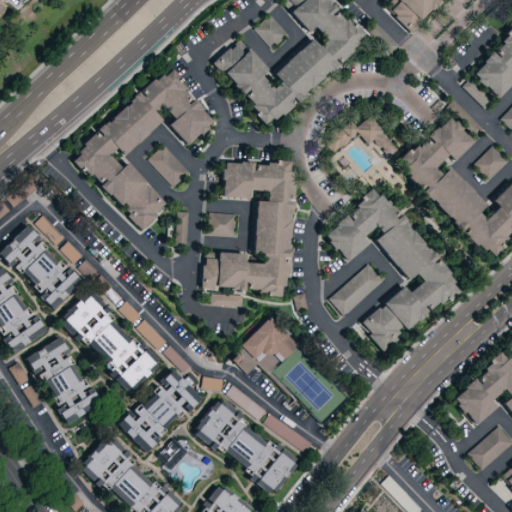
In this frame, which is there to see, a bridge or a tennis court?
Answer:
tennis court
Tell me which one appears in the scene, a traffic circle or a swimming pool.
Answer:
swimming pool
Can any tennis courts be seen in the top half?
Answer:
No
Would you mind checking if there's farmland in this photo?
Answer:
No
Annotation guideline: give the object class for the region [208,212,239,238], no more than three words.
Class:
building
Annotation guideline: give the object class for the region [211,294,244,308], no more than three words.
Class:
building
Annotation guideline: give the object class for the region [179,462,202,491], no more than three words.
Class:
swimming pool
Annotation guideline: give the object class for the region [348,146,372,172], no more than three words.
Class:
swimming pool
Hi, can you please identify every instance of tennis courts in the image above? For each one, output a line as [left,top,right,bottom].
[272,351,348,422]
